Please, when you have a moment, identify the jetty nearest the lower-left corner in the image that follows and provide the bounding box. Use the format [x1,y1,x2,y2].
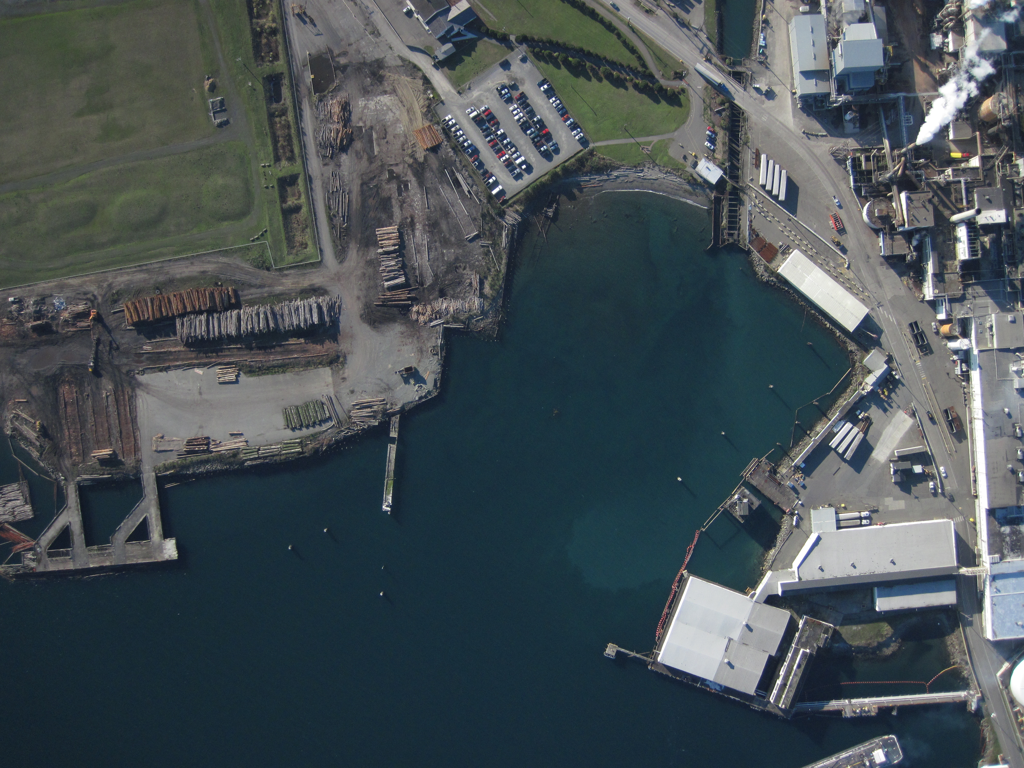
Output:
[34,472,178,573]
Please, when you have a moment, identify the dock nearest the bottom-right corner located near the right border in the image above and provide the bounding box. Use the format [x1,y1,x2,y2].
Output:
[794,690,981,717]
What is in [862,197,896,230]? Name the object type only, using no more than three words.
storage tank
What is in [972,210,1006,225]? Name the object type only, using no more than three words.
building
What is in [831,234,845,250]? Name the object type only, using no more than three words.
work vehicle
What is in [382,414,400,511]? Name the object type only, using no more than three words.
pier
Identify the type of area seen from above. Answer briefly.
port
